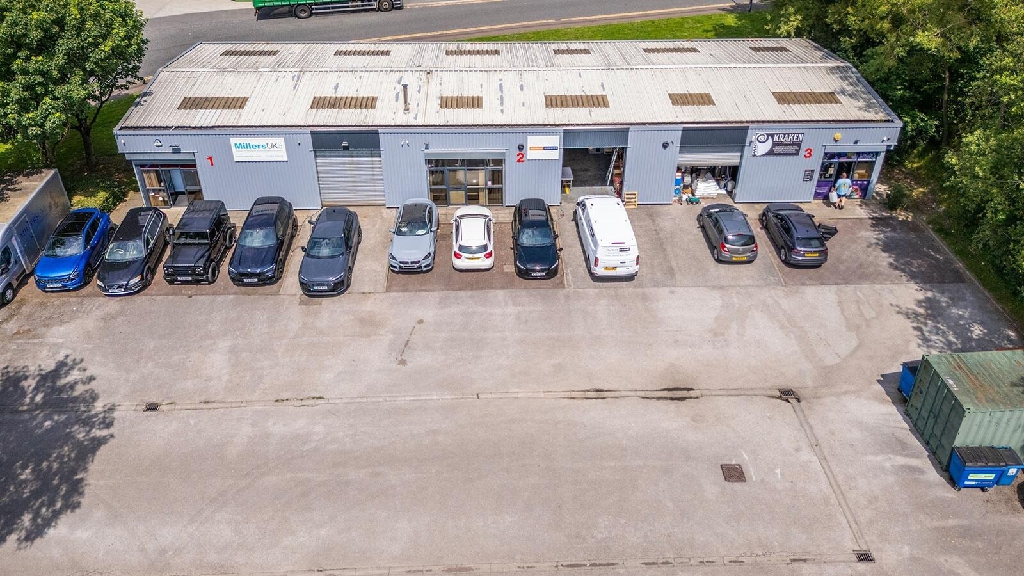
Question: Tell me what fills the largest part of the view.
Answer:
paved ground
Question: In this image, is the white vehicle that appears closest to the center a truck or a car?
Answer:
car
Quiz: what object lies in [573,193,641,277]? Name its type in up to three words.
van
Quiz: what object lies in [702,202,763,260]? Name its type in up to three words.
car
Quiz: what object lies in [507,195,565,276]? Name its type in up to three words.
car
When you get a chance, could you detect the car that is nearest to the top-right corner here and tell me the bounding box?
[759,199,841,263]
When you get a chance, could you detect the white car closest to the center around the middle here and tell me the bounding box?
[447,207,501,268]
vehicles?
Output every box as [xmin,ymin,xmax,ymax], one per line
[447,207,501,268]
[226,196,298,283]
[759,199,841,263]
[507,195,565,276]
[94,204,174,292]
[0,167,73,298]
[296,206,362,295]
[383,200,441,273]
[573,193,641,277]
[25,205,113,288]
[255,0,412,18]
[702,202,763,260]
